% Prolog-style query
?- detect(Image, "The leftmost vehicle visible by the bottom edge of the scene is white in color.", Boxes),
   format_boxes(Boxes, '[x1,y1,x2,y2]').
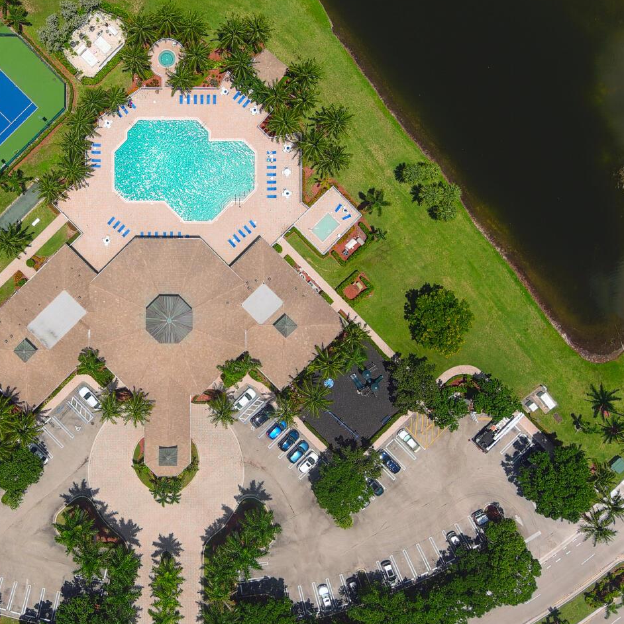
[317,582,331,610]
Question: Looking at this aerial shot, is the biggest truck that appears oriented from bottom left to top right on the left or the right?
right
